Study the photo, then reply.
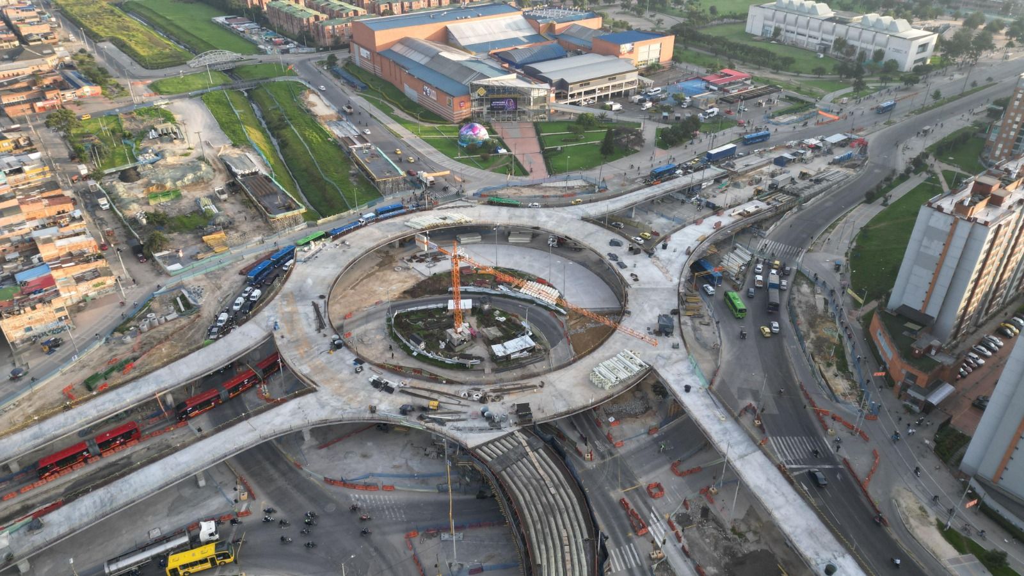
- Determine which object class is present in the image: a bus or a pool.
bus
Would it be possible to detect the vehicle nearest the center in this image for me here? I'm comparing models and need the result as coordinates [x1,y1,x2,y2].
[545,237,576,253]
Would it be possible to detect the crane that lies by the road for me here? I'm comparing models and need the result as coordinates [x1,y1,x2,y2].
[410,235,660,350]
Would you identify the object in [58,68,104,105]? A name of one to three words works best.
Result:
building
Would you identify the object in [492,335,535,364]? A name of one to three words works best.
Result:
shed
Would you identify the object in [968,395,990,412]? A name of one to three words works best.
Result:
car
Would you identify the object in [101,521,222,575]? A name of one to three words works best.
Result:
truck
